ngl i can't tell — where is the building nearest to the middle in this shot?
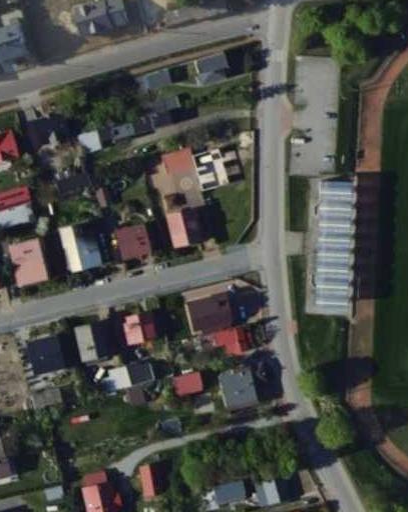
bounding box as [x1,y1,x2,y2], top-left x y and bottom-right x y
[166,208,207,249]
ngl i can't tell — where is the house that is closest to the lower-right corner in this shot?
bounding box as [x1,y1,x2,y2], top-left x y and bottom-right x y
[256,479,282,507]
